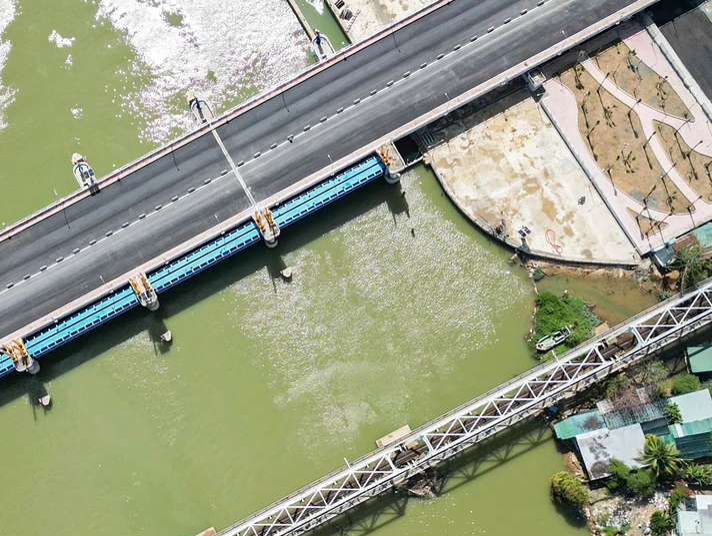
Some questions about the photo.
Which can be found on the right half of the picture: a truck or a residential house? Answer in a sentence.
What appears on the right half of the picture is a residential house.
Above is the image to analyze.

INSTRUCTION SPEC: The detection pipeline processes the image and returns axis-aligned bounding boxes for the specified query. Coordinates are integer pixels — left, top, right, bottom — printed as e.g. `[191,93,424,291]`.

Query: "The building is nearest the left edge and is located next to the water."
[554,409,607,440]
